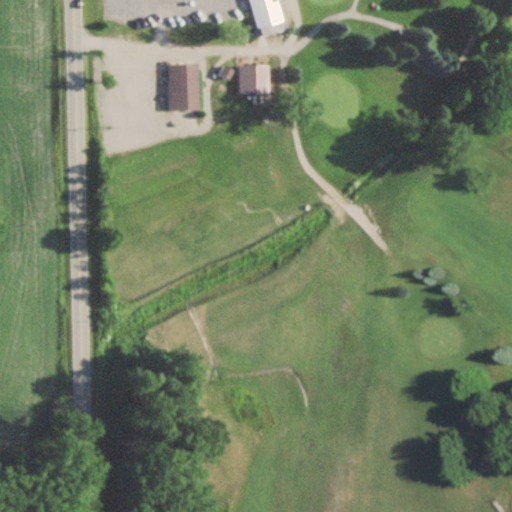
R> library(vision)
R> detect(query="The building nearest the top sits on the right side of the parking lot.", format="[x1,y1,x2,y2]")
[249,0,288,38]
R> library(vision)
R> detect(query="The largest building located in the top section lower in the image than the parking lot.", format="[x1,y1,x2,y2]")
[169,64,200,111]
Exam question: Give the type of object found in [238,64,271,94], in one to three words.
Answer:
building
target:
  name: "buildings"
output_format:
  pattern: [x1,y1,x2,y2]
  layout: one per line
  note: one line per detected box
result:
[169,64,200,111]
[218,66,236,82]
[238,64,271,94]
[249,0,288,38]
